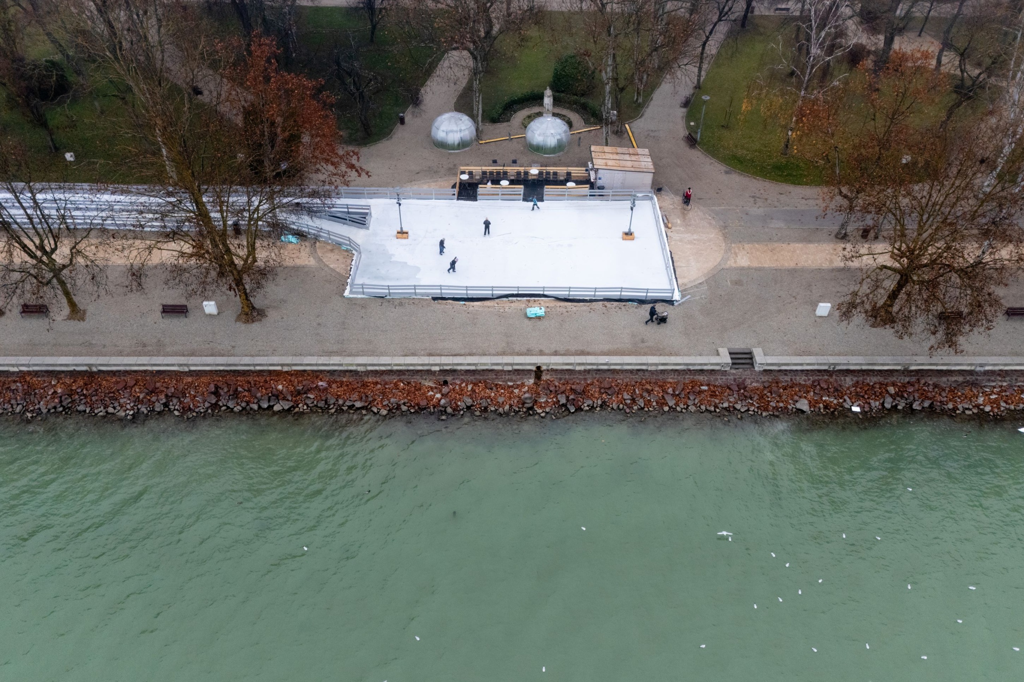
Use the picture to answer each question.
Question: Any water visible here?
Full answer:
Yes, water shows up in the scene.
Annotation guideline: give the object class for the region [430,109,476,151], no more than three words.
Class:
tent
